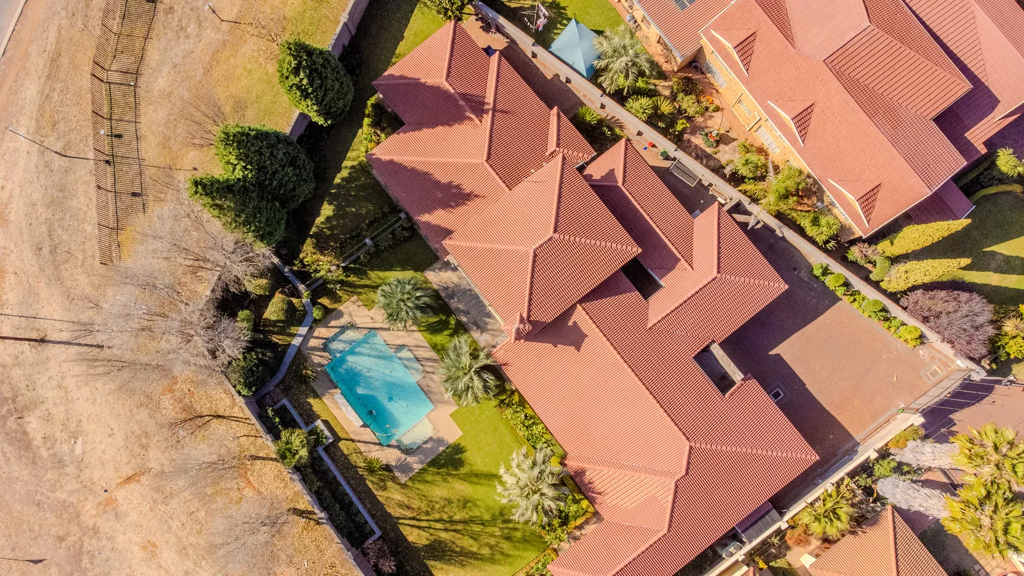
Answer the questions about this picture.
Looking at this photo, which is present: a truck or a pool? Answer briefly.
pool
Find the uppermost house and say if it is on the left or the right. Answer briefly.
right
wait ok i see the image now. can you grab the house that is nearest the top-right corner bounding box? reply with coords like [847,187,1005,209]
[617,0,1024,237]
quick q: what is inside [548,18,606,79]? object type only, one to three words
gazebo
